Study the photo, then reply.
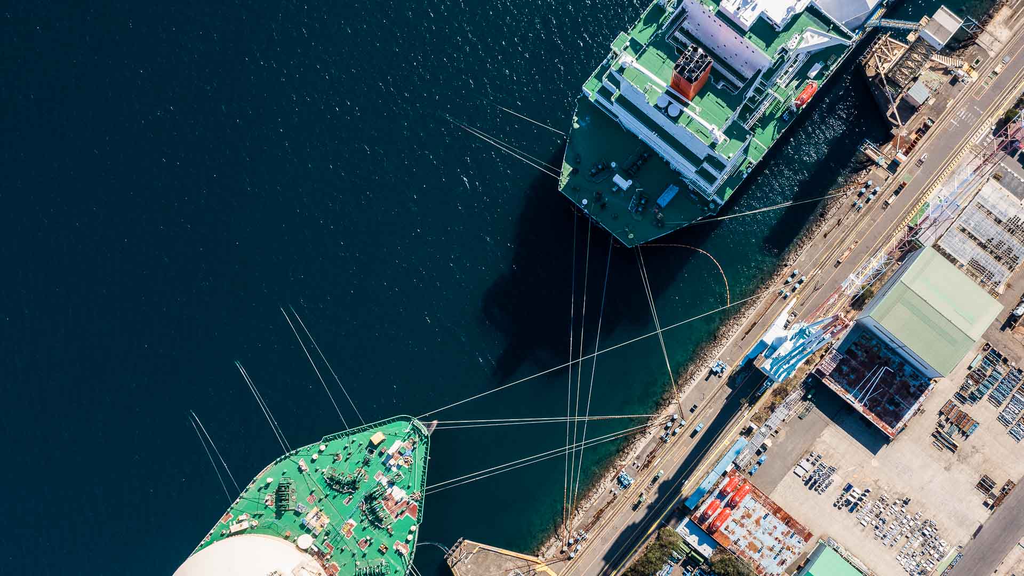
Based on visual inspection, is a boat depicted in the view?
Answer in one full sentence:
Yes, a boat appears in the view.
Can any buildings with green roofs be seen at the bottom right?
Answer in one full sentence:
Yes, a building with a green roof is visible at the bottom right.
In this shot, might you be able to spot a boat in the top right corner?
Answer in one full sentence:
Yes, a boat can be seen in the top right corner.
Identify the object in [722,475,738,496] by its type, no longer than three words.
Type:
boat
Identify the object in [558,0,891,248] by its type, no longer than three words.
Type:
ship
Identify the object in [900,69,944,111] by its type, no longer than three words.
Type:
shed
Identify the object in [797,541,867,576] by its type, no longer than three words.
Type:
building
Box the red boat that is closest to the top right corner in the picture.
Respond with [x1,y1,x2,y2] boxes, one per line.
[796,84,815,108]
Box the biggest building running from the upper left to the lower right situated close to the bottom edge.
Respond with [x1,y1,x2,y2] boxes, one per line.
[674,514,718,559]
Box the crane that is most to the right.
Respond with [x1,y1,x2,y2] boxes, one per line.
[734,112,1024,398]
